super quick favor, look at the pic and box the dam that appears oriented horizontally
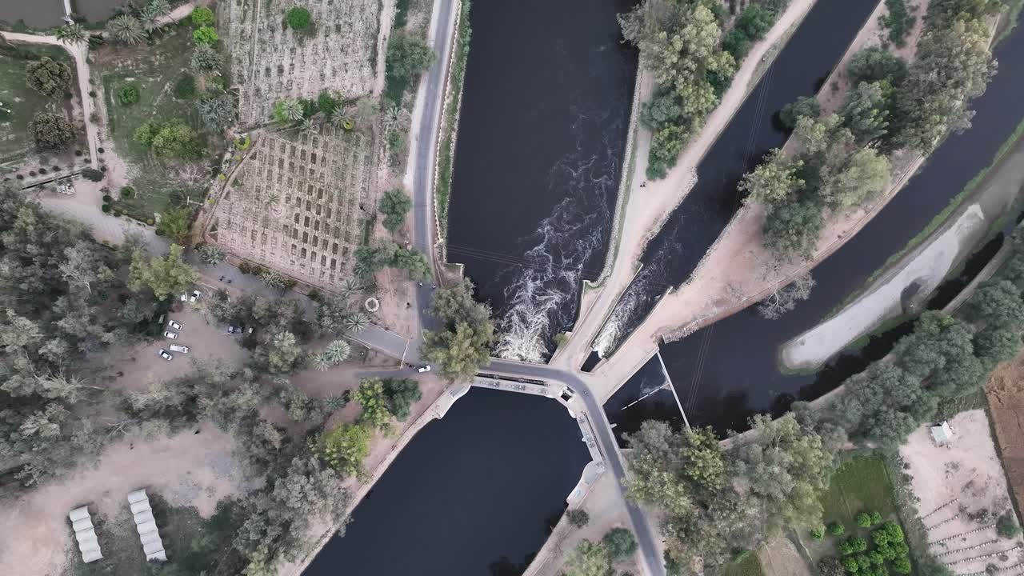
[471,357,550,397]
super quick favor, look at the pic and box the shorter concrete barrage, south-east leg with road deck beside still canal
[576,406,621,462]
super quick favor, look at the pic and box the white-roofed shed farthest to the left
[70,505,103,563]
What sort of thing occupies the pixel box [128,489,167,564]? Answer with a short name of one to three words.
shed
